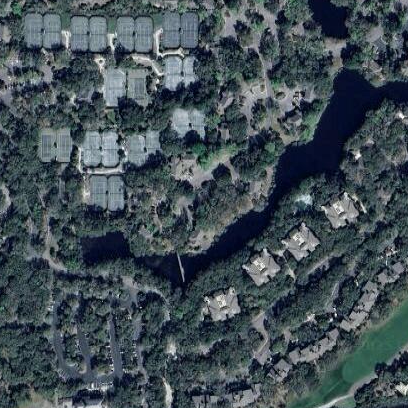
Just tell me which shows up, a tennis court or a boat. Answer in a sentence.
There is a tennis court in the scene.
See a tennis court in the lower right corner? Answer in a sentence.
No, no tennis court appears in the lower right corner.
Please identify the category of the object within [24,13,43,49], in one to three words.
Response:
tennis court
